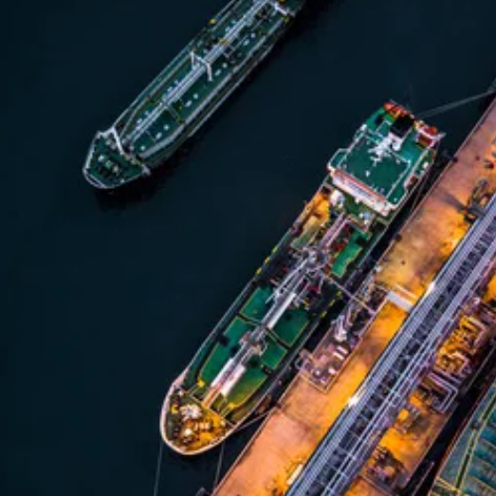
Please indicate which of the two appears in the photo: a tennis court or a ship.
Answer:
ship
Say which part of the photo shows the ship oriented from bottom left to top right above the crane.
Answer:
top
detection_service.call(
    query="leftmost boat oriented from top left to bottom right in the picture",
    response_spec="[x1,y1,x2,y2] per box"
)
[388,98,404,112]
